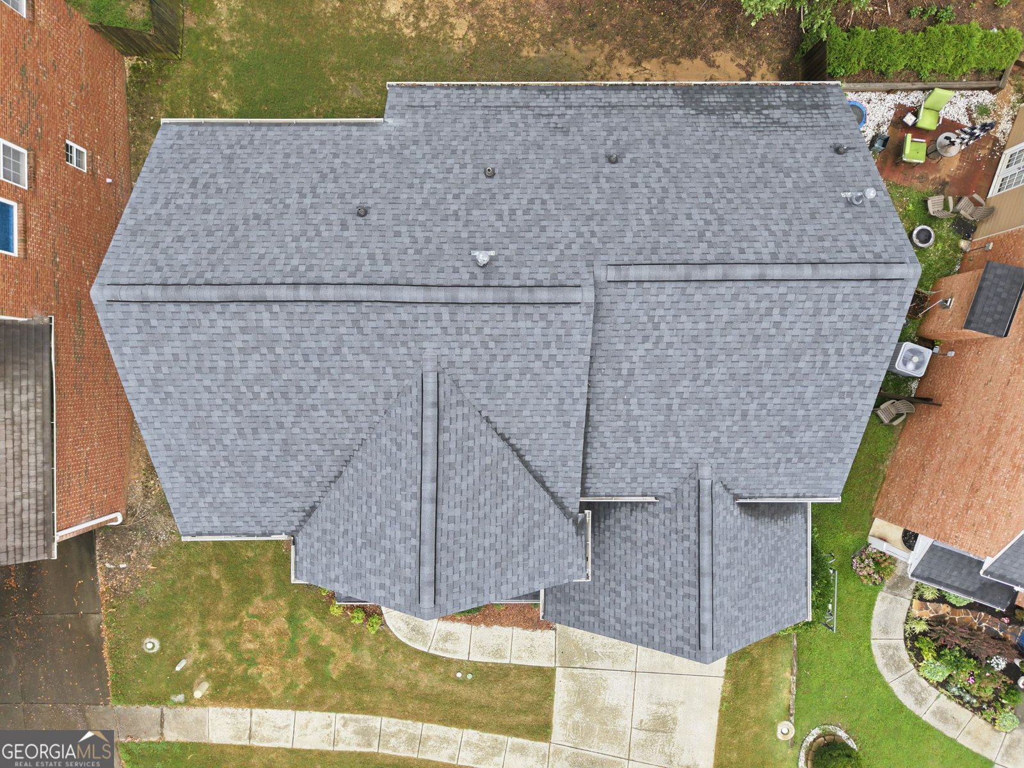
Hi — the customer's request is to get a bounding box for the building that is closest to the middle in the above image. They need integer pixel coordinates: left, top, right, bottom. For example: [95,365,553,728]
[91,79,921,663]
